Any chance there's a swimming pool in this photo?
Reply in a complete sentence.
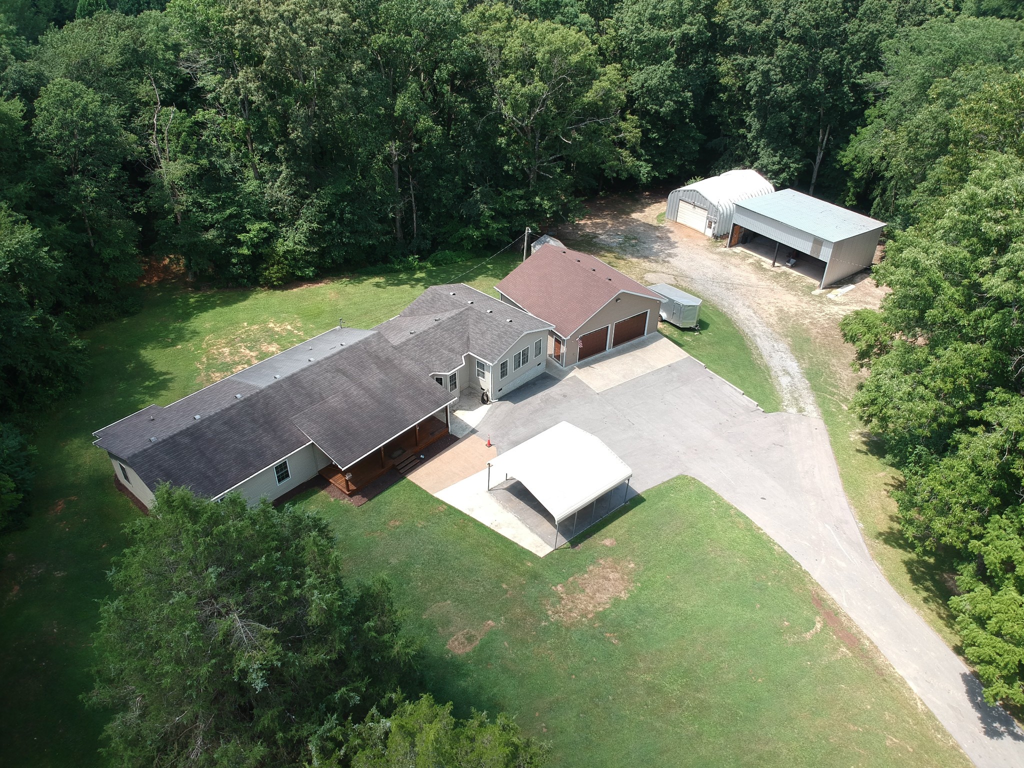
No, I find no swimming pool anywhere in the image.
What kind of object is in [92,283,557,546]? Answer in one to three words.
house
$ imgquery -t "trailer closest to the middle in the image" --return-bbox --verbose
[649,280,707,334]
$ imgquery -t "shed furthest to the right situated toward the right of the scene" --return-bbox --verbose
[726,189,887,290]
